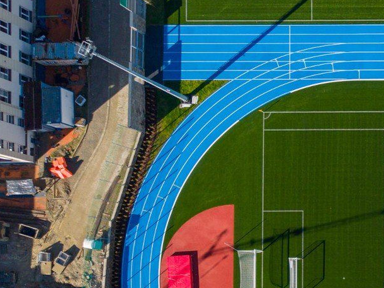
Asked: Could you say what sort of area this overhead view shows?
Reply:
sports ground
